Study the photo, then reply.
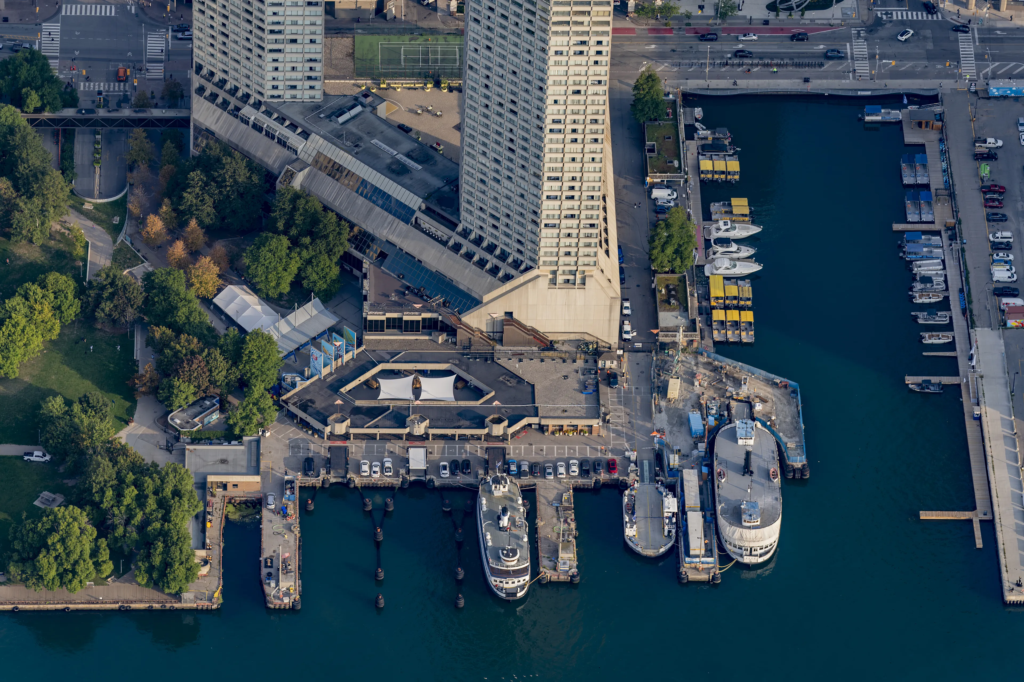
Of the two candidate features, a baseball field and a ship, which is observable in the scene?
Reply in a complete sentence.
I can see a ship in this picture.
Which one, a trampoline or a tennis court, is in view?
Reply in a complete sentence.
The image shows a tennis court.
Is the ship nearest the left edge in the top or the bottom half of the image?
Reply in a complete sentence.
It is in the bottom half that the ship nearest the left edge appears.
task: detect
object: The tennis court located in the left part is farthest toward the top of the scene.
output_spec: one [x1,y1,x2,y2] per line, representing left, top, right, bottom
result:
[355,22,462,78]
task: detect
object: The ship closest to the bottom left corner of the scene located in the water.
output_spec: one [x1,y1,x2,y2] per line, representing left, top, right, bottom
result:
[476,460,535,599]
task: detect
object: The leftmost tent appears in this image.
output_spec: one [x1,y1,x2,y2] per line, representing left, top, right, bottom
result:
[212,284,282,327]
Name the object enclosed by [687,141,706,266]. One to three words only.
pier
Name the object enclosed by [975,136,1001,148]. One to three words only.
vehicle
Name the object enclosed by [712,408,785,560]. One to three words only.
ship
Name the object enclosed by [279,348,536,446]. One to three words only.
building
